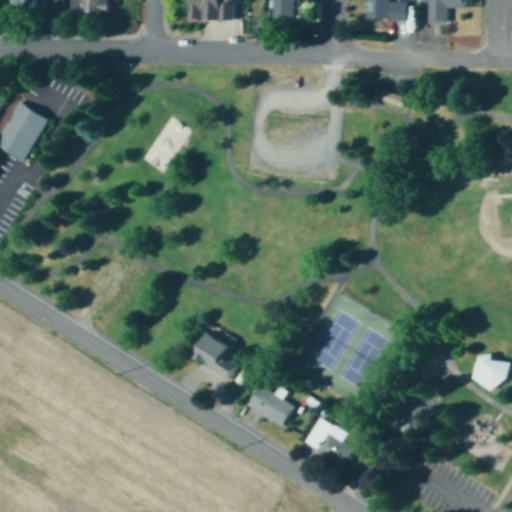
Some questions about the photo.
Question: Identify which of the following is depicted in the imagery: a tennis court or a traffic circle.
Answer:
tennis court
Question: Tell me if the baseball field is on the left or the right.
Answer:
right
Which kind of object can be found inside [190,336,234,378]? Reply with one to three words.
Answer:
house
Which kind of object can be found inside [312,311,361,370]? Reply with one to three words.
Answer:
tennis court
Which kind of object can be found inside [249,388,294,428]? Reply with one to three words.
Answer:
house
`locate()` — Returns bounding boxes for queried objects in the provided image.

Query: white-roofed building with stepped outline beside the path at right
[473,354,512,392]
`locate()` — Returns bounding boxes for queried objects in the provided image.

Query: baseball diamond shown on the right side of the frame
[480,190,512,256]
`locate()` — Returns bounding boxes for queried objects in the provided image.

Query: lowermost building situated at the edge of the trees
[306,418,350,460]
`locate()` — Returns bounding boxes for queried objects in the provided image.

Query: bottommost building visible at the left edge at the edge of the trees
[0,103,47,159]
